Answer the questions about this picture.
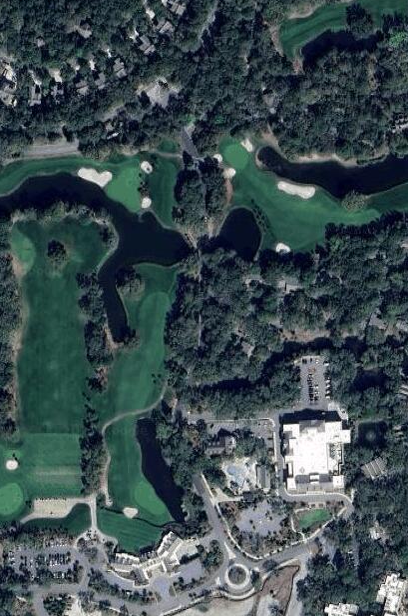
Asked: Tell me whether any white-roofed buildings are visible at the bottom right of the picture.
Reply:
Yes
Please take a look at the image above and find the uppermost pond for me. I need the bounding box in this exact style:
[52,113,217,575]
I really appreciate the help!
[302,28,382,74]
